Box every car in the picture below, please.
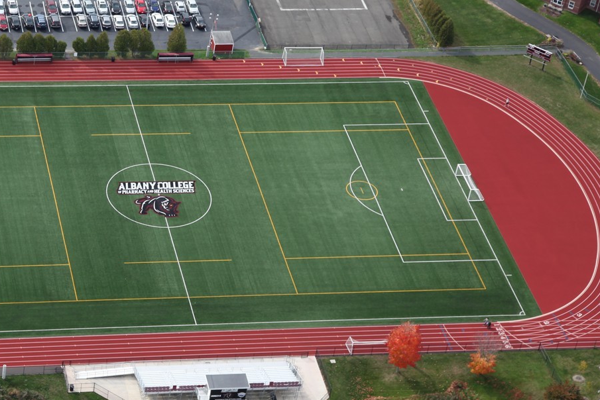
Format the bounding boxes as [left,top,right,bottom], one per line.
[109,0,121,15]
[187,0,199,13]
[162,1,174,15]
[0,0,6,15]
[76,16,87,30]
[83,0,95,15]
[58,0,72,15]
[113,17,124,30]
[179,13,191,25]
[148,0,161,13]
[87,11,99,29]
[70,0,83,13]
[126,16,139,29]
[123,0,136,15]
[174,2,187,13]
[151,15,165,28]
[35,16,47,29]
[9,16,21,30]
[135,0,147,13]
[96,0,109,15]
[193,15,206,29]
[7,1,19,15]
[138,16,150,29]
[165,16,175,29]
[99,16,112,29]
[0,15,8,30]
[46,0,58,15]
